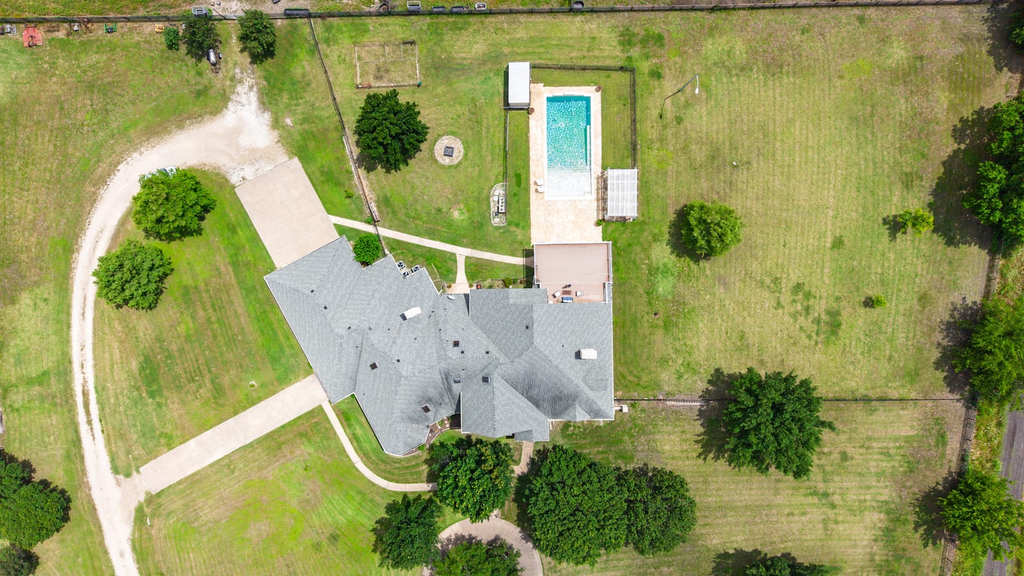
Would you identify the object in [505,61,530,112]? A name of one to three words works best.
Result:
building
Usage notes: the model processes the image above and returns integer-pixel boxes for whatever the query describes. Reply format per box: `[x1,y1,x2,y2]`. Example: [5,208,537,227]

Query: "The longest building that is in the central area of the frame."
[264,234,614,456]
